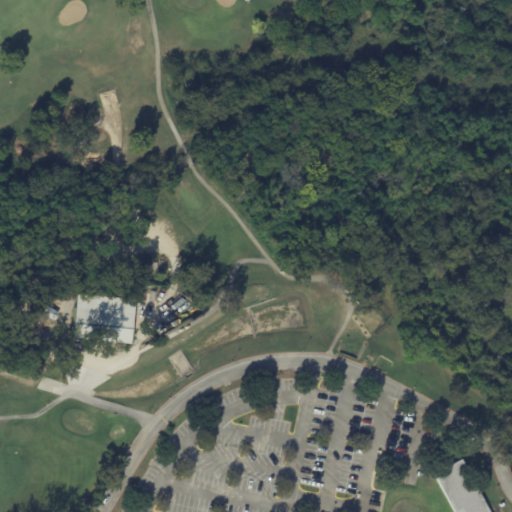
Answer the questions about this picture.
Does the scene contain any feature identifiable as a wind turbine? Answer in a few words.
No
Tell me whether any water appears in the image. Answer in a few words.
No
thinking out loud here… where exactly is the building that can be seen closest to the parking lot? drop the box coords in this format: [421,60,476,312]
[432,456,492,512]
